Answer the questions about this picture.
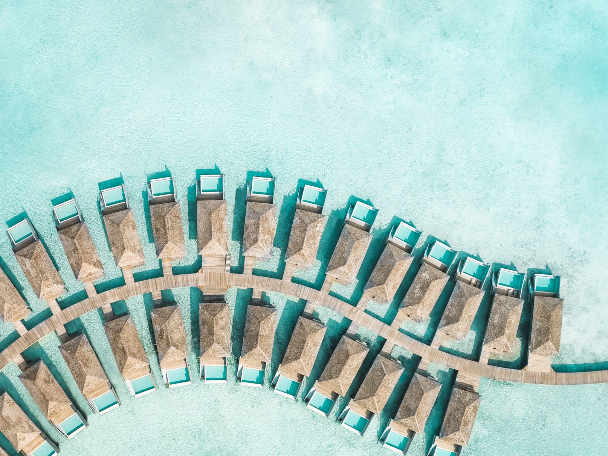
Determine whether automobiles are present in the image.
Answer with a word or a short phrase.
No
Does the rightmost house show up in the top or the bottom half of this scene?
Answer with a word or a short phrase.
bottom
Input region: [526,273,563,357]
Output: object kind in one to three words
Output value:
house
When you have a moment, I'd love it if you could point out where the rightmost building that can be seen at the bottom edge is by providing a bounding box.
[427,382,482,456]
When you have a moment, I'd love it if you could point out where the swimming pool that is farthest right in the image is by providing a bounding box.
[531,271,557,292]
